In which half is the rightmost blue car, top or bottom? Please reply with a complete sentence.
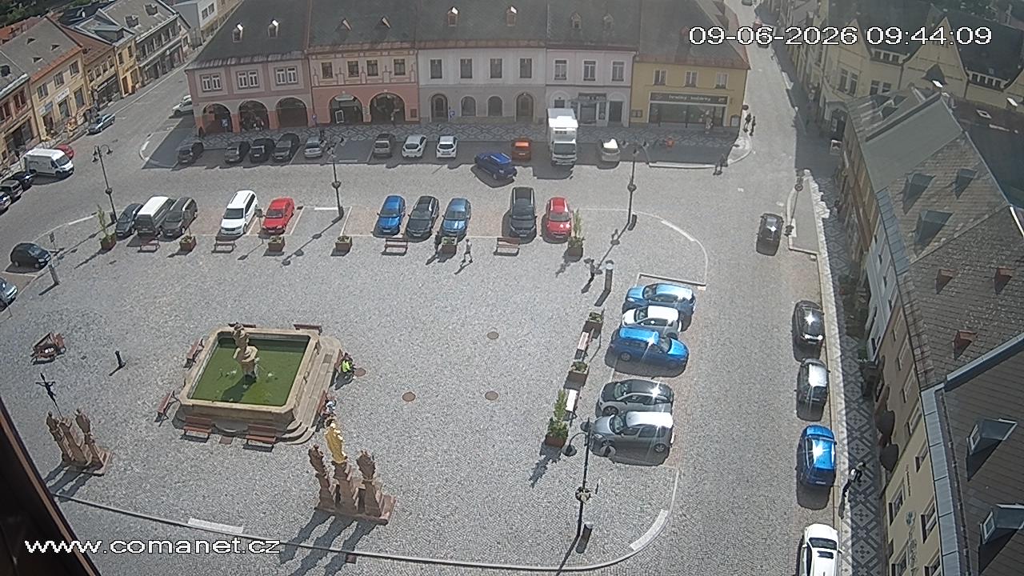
The rightmost blue car sits in the bottom half of the picture.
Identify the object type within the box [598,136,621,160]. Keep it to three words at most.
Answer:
car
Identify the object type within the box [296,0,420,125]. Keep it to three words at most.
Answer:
house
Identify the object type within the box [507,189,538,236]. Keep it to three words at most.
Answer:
car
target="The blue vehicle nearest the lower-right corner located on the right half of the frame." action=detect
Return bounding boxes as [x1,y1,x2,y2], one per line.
[798,424,845,485]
